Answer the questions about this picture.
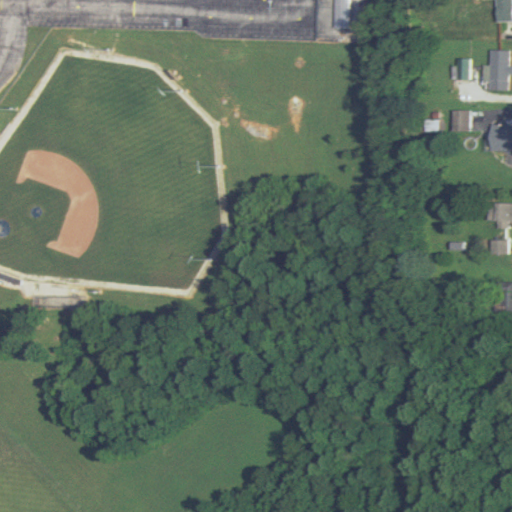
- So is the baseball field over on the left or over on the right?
left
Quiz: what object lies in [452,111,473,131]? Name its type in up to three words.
building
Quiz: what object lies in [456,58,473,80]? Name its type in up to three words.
barn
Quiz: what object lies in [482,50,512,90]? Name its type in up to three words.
house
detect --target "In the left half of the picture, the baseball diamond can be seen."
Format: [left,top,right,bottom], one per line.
[0,48,229,296]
